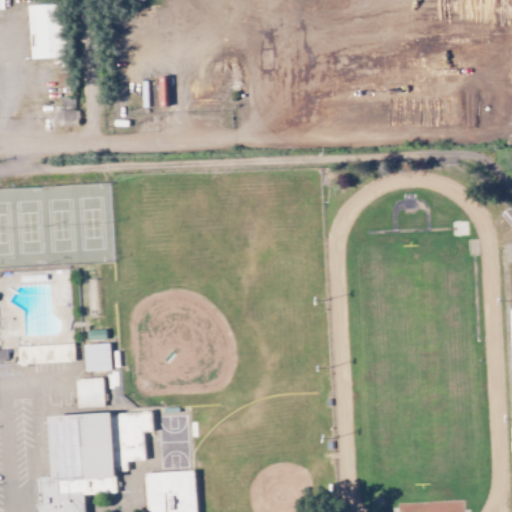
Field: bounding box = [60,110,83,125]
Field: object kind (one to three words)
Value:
house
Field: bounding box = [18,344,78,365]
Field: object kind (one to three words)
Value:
building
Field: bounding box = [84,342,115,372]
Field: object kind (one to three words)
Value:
building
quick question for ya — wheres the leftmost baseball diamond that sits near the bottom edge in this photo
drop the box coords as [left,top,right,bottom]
[252,463,315,512]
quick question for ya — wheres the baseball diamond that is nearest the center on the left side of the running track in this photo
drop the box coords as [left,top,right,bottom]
[131,288,238,397]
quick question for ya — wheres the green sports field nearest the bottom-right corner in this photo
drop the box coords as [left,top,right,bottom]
[345,188,492,512]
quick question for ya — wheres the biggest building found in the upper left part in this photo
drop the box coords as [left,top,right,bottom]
[28,4,66,60]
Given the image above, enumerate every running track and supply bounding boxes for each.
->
[329,172,510,512]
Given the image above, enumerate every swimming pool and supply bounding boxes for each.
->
[0,266,74,352]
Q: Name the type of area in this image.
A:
sports ground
